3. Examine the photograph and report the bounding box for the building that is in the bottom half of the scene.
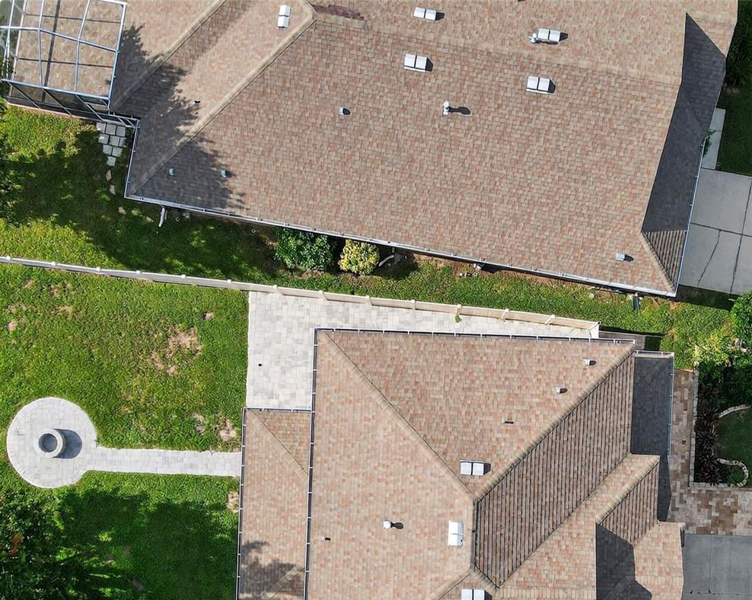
[233,325,687,600]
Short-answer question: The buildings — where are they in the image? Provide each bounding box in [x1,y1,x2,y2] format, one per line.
[233,325,687,600]
[108,0,742,300]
